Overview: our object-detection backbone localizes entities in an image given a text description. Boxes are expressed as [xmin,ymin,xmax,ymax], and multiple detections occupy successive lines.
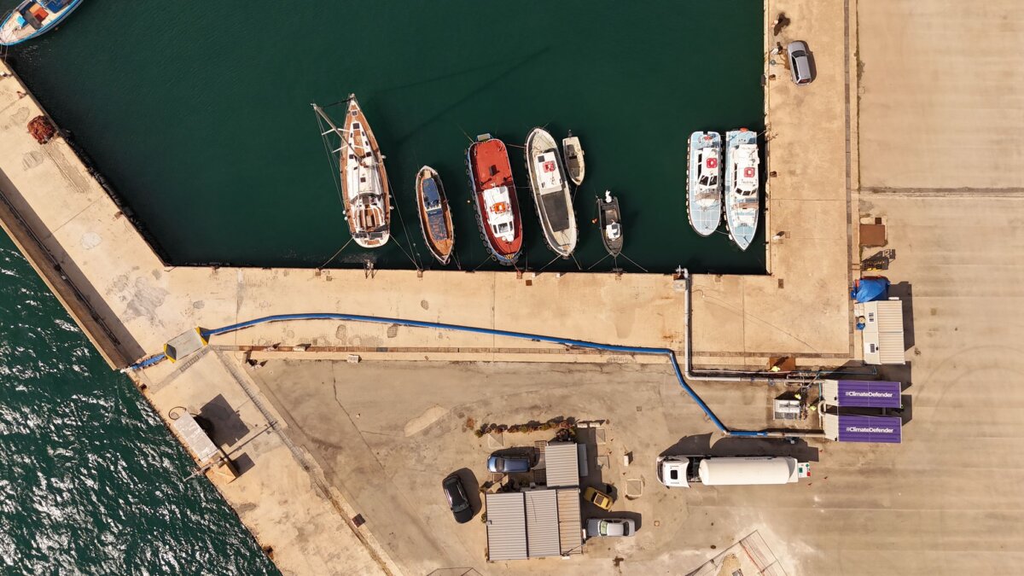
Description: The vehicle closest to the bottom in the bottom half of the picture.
[586,517,636,539]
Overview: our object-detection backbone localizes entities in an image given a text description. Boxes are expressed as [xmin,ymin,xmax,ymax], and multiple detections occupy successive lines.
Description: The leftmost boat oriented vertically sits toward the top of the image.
[306,91,394,247]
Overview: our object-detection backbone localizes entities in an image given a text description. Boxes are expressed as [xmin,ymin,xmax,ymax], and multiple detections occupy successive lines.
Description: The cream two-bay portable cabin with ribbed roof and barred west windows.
[864,298,906,364]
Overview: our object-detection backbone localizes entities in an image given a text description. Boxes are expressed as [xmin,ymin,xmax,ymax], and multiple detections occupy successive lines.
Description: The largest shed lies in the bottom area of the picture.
[485,441,588,562]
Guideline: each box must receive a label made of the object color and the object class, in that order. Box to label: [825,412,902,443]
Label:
purple shipping container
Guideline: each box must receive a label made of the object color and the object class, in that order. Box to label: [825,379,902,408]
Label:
purple shipping container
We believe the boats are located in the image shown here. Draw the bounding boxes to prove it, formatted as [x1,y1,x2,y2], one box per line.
[686,131,724,237]
[306,91,394,247]
[0,0,91,47]
[522,128,581,262]
[414,165,456,264]
[562,132,585,185]
[463,132,525,265]
[723,128,759,252]
[596,190,624,257]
